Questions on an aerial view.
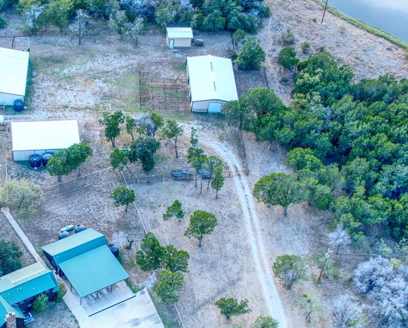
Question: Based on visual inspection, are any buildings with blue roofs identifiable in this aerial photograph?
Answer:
Yes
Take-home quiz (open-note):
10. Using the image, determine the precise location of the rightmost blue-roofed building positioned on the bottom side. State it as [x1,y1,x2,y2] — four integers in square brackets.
[41,227,129,305]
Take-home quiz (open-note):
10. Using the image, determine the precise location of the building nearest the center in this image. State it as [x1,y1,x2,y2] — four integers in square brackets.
[184,54,237,114]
